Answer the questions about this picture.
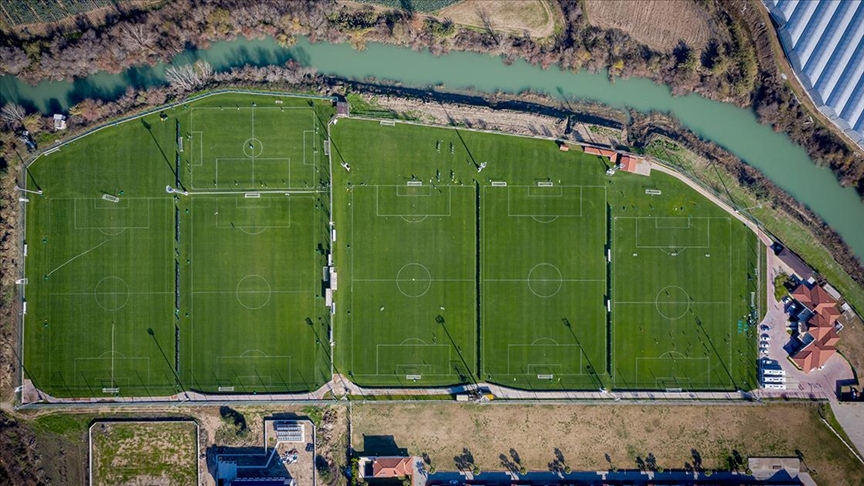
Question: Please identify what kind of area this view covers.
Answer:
sports ground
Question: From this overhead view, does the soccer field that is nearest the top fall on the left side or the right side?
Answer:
left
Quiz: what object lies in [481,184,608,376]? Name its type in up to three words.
soccer field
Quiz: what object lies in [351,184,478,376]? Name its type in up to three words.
soccer field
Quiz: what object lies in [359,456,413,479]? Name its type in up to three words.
house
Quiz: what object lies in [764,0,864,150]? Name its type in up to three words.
greenhouse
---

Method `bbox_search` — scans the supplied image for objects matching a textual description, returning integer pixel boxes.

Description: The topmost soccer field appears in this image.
[189,105,318,191]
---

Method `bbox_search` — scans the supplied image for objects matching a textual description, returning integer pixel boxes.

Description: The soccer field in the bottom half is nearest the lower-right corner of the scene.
[613,215,733,392]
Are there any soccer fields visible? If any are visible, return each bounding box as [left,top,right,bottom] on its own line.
[613,215,733,392]
[481,184,608,376]
[190,196,317,391]
[48,197,175,391]
[351,184,478,376]
[189,105,318,191]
